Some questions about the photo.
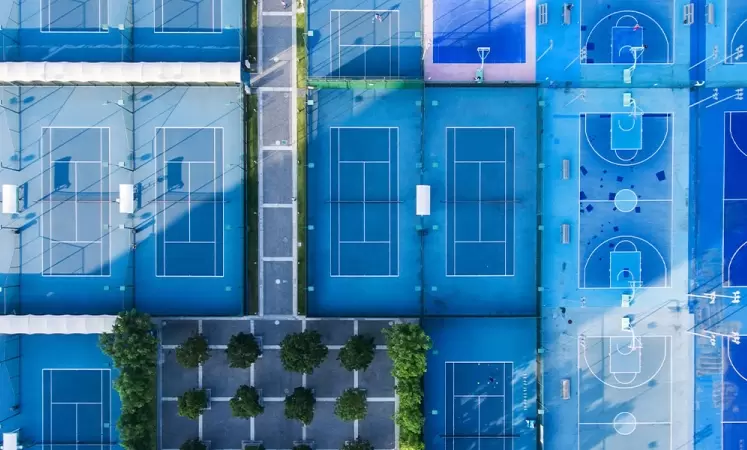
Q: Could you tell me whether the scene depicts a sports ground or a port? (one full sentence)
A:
The area seen from above is a sports ground.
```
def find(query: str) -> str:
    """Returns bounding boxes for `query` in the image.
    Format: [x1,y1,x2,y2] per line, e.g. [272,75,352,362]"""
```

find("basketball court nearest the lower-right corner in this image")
[694,312,747,450]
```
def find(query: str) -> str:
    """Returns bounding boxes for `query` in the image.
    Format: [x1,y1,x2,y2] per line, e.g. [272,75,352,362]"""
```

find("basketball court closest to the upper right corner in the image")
[690,0,747,88]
